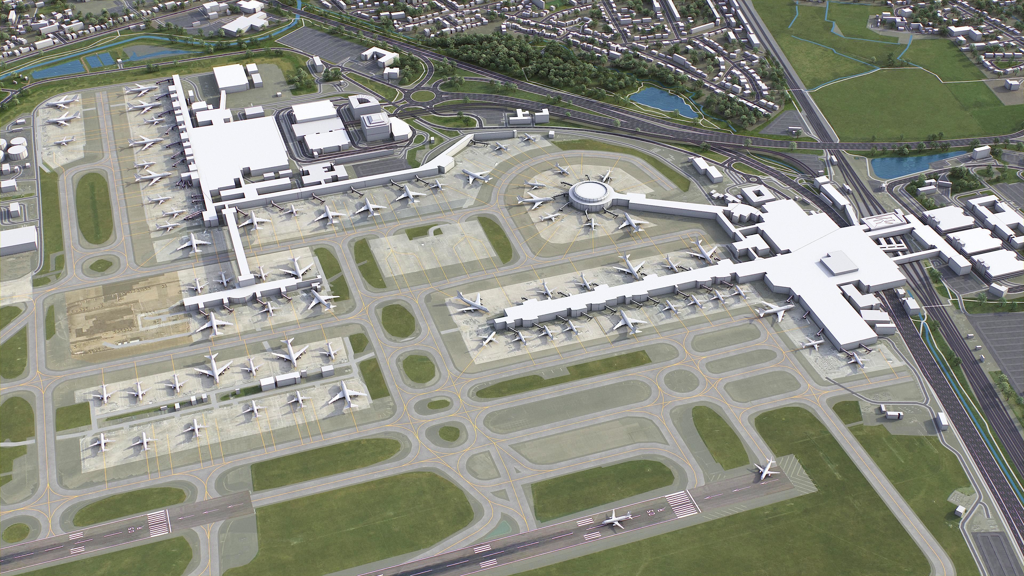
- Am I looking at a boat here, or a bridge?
bridge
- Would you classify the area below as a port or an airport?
airport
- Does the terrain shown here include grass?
Yes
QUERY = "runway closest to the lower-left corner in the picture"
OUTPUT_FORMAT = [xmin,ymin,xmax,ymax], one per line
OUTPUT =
[0,490,254,573]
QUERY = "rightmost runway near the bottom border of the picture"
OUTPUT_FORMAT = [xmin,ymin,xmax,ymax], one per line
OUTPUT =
[350,466,795,576]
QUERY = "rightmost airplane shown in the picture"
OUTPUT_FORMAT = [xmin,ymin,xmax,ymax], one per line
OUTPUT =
[848,352,871,368]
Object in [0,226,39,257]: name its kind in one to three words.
hangar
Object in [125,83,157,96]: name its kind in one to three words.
airplane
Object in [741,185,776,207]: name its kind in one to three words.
building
